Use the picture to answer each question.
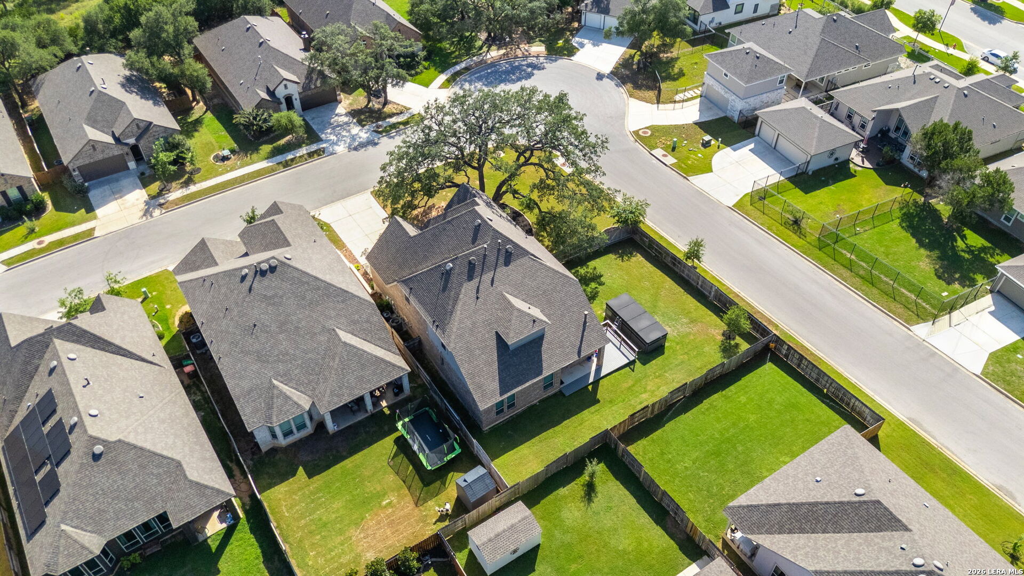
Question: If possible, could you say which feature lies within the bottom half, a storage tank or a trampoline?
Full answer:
There is a trampoline within the bottom half.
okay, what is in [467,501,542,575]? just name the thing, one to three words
shed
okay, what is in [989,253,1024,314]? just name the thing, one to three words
building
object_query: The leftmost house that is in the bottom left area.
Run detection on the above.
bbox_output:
[0,293,244,576]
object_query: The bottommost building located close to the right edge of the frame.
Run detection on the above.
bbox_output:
[721,424,1024,576]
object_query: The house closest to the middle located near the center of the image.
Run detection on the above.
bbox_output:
[367,183,609,425]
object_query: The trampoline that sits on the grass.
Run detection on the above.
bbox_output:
[388,393,466,473]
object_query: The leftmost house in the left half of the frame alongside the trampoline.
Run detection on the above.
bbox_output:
[172,201,410,447]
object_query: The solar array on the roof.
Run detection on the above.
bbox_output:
[4,389,70,535]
